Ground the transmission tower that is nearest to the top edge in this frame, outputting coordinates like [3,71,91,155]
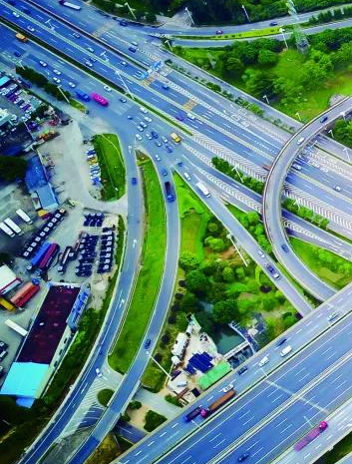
[281,0,311,56]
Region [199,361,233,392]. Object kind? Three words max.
shed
